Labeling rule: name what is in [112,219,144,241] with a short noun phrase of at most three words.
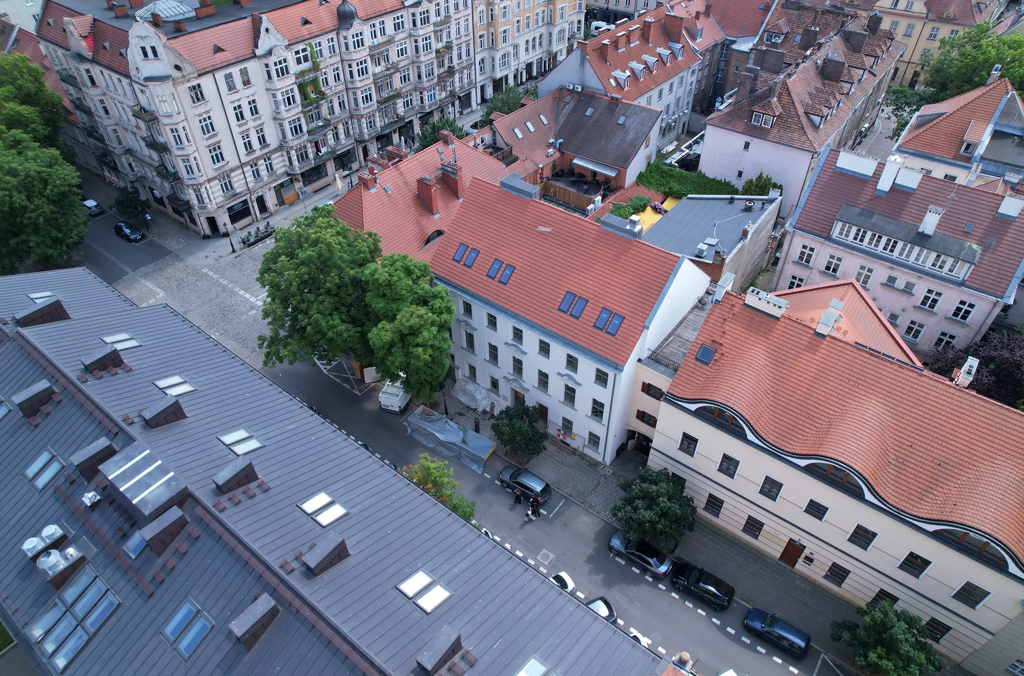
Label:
car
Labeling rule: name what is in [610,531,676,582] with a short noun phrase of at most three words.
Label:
car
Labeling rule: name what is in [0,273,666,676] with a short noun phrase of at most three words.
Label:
building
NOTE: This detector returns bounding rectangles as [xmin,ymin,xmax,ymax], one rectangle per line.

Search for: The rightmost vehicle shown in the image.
[740,606,817,668]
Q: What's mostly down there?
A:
buildings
